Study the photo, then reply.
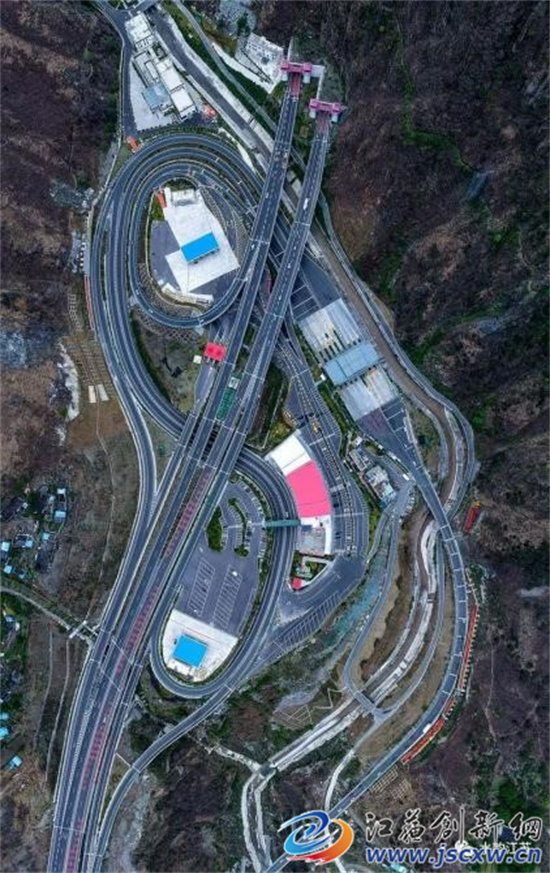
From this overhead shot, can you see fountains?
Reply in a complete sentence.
No, there is no fountain in the image.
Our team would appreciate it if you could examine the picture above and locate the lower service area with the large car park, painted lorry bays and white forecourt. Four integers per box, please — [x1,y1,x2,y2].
[164,481,267,680]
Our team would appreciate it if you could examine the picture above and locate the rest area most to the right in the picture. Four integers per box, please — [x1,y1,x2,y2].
[252,330,368,668]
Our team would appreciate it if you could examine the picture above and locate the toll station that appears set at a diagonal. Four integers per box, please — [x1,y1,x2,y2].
[291,262,424,468]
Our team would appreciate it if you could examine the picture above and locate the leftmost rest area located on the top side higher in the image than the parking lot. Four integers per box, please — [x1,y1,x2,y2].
[148,188,240,304]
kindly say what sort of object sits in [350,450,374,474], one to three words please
house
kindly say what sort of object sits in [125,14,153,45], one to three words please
building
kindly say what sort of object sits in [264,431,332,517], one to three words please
building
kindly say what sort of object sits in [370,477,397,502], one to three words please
house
